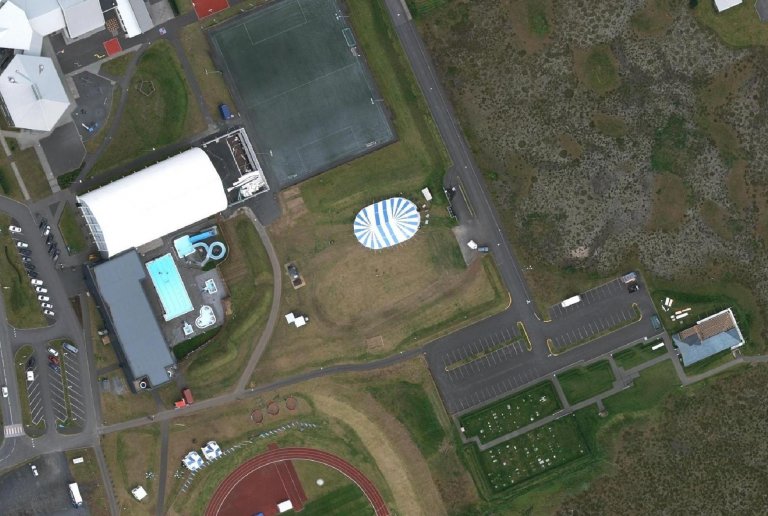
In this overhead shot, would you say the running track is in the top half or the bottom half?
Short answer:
bottom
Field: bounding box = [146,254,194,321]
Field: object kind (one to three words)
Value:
swimming pool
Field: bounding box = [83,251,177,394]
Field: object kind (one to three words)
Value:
building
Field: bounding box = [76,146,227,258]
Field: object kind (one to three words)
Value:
building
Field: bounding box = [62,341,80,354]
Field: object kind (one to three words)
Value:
vehicle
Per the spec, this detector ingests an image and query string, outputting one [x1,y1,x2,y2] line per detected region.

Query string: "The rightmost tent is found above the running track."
[350,193,426,254]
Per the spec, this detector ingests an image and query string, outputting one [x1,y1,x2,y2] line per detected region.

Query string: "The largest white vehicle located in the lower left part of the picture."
[69,482,82,506]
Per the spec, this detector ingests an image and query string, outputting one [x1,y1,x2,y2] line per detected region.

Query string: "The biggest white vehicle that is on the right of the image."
[561,294,581,308]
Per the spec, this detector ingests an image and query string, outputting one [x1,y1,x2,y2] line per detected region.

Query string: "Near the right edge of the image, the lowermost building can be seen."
[673,306,746,367]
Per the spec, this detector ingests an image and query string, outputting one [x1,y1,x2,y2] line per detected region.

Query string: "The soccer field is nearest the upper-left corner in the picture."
[206,0,398,189]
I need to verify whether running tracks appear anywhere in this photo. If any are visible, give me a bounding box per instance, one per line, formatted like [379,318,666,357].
[205,443,388,516]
